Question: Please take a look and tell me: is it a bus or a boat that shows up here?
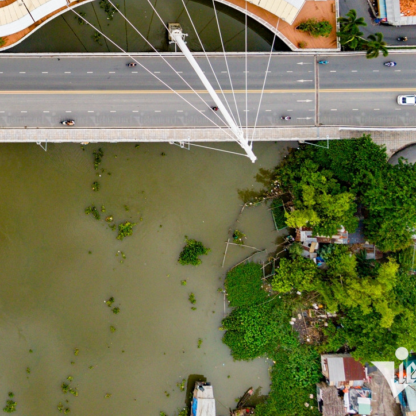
boat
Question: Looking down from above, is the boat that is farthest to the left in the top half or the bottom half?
bottom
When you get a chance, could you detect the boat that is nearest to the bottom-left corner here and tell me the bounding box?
[193,380,216,416]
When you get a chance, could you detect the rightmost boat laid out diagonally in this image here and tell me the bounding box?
[237,388,253,410]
